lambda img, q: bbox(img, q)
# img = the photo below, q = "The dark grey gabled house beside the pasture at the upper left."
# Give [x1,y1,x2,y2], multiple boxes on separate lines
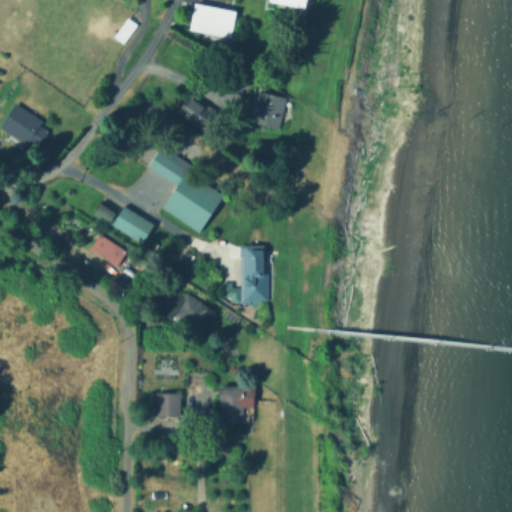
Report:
[1,104,48,146]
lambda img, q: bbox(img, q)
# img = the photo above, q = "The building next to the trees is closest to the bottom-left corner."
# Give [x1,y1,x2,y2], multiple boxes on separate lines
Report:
[156,394,182,418]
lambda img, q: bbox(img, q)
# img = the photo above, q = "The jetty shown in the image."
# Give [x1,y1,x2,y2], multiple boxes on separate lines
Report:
[288,326,512,352]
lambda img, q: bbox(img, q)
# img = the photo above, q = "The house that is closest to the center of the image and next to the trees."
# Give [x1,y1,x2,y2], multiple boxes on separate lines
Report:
[226,245,270,308]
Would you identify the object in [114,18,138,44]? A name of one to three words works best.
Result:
shed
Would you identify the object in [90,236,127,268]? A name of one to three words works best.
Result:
house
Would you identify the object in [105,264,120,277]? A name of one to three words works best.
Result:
vehicle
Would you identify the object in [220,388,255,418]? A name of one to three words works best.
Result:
house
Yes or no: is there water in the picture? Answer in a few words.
Yes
